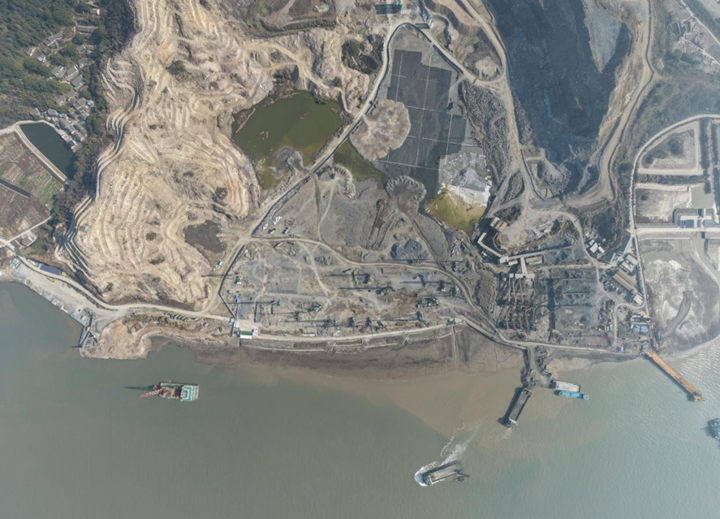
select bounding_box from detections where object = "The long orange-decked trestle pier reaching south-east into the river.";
[644,349,702,400]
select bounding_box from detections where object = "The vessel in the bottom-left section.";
[140,383,198,401]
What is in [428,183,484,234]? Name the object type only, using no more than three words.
pond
